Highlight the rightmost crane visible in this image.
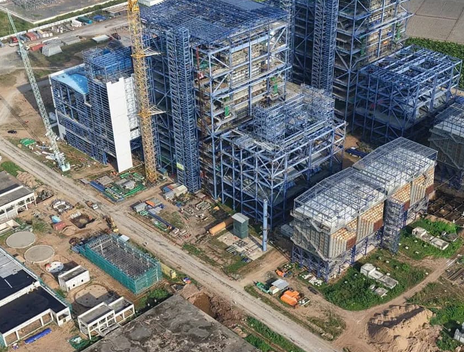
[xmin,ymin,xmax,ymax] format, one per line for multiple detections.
[128,0,174,183]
